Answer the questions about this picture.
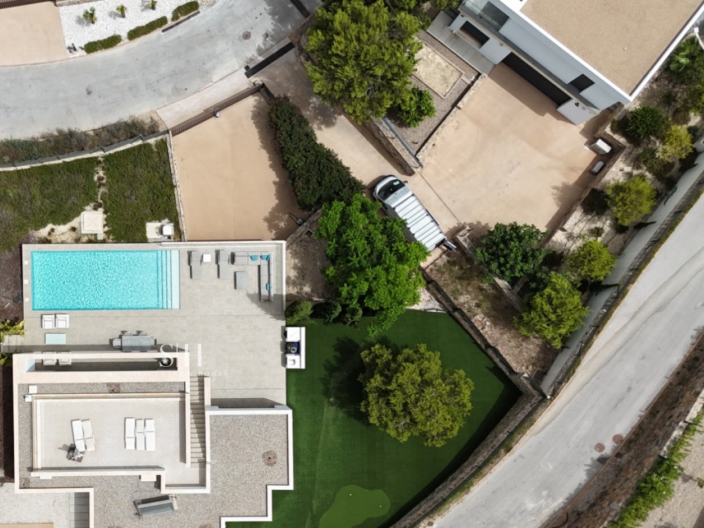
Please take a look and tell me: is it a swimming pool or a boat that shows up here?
swimming pool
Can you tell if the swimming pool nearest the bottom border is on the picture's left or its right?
left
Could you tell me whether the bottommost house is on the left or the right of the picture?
left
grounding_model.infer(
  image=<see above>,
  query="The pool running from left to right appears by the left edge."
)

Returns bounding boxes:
[28,249,180,312]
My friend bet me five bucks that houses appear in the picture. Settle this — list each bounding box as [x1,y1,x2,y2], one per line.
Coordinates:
[14,351,293,528]
[433,0,701,135]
